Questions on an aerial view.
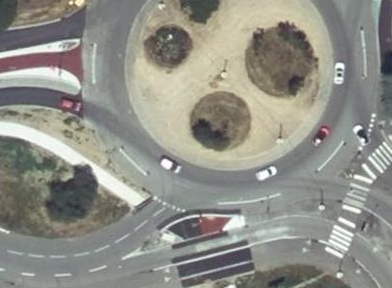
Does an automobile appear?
Yes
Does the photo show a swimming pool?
No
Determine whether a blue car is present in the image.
No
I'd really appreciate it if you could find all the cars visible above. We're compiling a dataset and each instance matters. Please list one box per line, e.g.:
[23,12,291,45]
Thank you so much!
[60,98,83,111]
[160,156,182,174]
[312,126,331,146]
[354,125,370,146]
[334,62,345,84]
[256,166,278,180]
